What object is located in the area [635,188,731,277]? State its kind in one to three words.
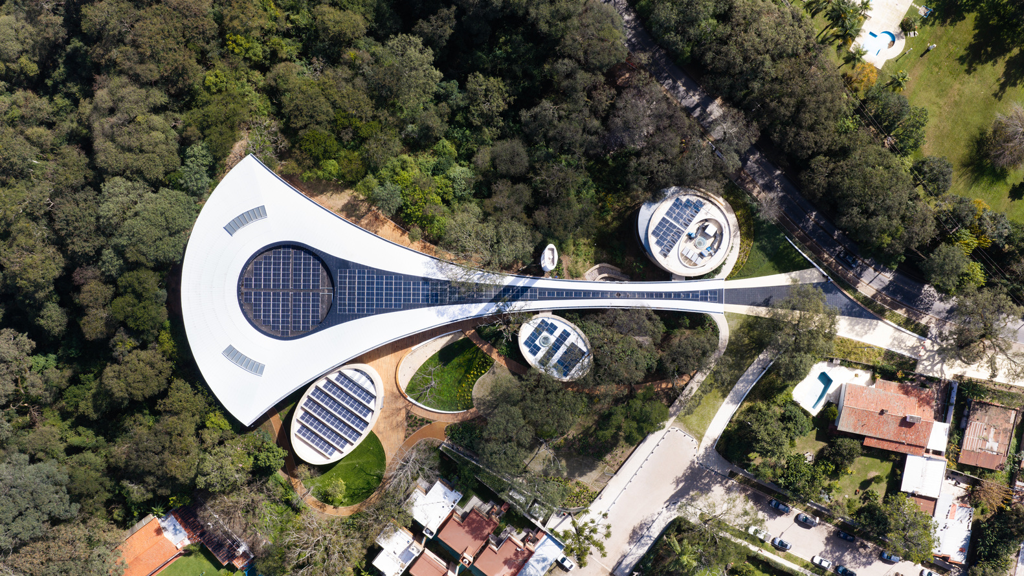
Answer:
building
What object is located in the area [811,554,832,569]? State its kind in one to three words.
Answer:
car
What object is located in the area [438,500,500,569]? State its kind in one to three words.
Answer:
house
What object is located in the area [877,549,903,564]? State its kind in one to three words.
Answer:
vehicle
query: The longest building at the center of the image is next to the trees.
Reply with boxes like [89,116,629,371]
[181,153,725,428]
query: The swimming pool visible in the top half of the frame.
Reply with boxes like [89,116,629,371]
[847,0,912,71]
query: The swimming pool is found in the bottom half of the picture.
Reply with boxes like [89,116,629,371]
[792,360,874,416]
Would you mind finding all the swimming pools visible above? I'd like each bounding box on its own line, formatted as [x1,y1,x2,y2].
[792,360,874,416]
[847,0,912,71]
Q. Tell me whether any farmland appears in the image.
No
